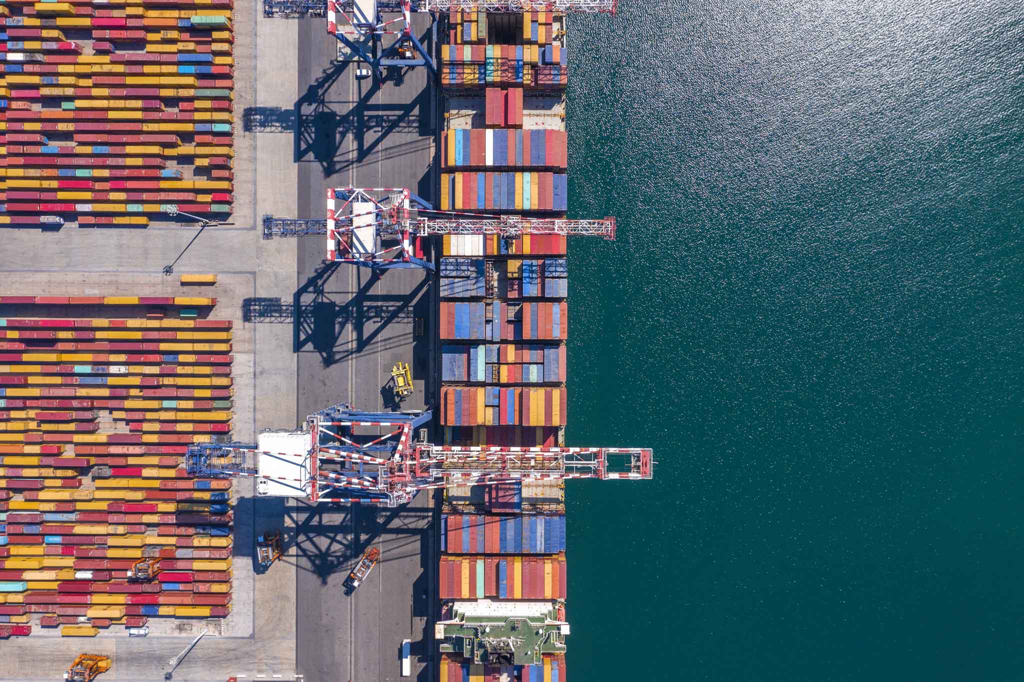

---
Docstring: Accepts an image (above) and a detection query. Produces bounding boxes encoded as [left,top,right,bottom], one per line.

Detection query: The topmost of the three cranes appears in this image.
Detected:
[260,0,616,97]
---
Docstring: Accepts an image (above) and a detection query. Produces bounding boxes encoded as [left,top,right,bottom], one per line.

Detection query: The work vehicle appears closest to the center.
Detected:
[393,365,418,398]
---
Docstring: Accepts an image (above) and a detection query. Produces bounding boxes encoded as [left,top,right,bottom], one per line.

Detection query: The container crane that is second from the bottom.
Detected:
[260,188,616,286]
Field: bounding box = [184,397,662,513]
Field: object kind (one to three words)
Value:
container crane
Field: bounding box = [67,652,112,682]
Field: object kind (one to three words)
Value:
work vehicle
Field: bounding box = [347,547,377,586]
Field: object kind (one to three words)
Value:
work vehicle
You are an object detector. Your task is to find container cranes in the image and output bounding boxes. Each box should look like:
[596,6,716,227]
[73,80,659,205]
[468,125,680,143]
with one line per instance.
[184,397,662,513]
[260,0,616,97]
[260,188,616,286]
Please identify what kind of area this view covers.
port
